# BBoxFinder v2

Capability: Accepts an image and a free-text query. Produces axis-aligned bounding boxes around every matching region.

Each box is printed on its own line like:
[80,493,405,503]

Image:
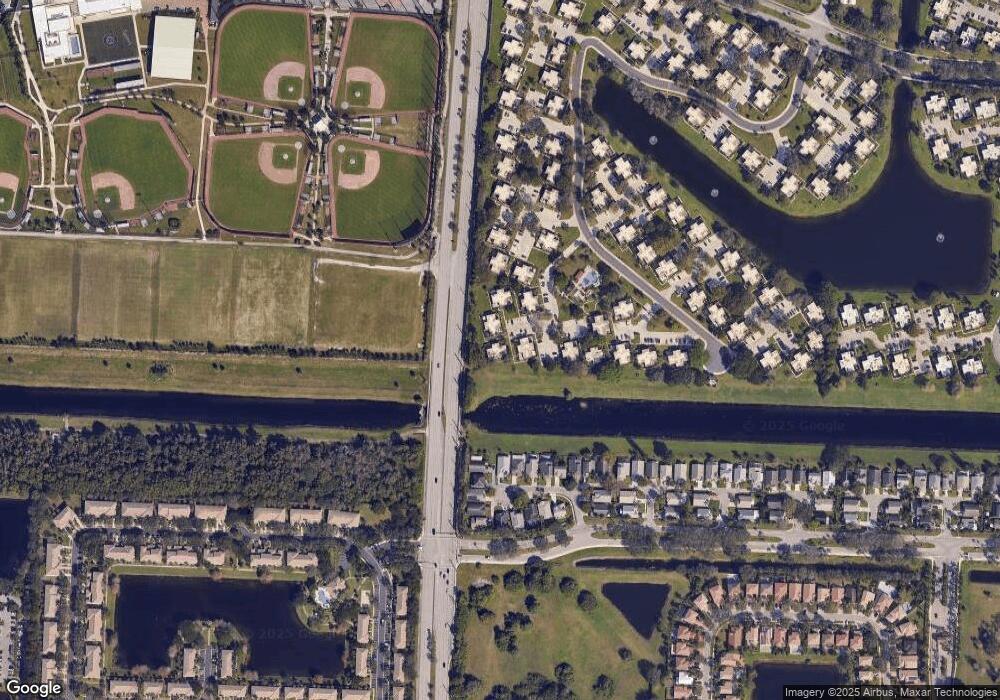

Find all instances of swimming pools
[314,587,331,608]
[579,266,600,288]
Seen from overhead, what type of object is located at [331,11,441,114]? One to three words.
baseball field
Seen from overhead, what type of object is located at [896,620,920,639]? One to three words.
house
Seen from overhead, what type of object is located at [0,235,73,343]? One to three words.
sports field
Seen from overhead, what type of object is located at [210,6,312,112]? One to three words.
baseball field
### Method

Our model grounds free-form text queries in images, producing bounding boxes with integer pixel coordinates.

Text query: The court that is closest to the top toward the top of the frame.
[82,16,139,63]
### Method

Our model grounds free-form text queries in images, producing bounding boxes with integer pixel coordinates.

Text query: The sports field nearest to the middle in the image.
[314,263,421,353]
